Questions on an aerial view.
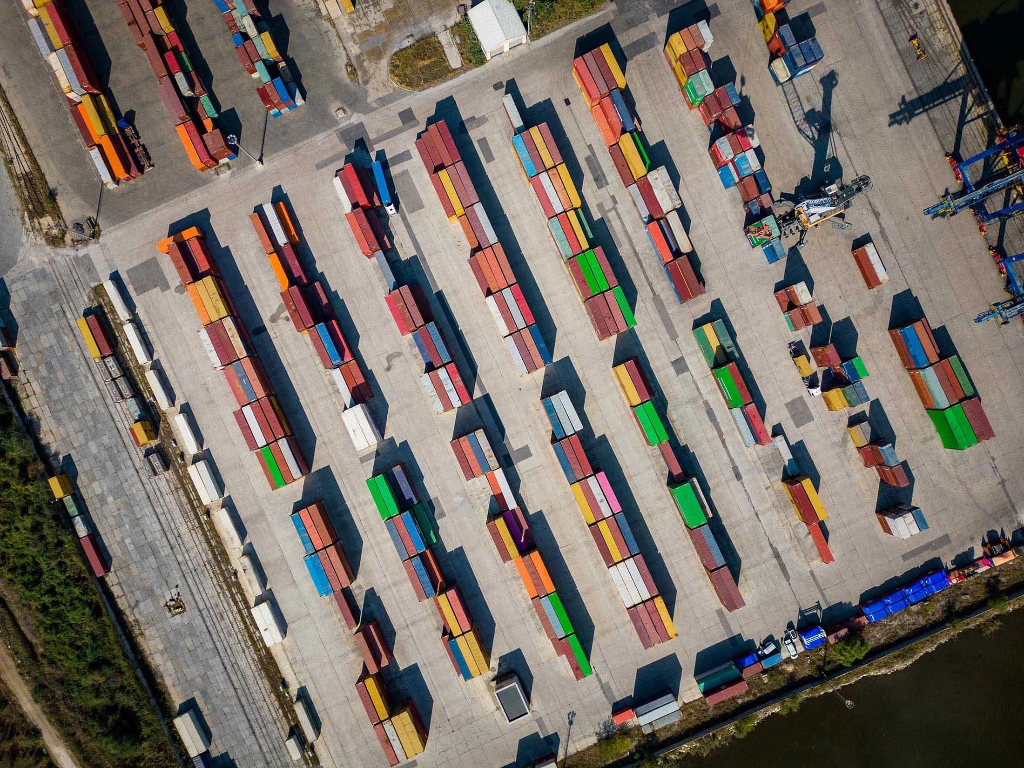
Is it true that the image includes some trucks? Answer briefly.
Yes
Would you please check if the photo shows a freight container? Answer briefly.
Yes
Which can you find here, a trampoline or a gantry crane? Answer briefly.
gantry crane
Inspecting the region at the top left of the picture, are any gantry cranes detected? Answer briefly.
No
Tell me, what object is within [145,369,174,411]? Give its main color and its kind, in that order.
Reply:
white shipping container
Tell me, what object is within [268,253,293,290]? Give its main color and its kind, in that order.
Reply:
orange shipping container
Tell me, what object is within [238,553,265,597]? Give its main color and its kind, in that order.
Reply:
white shipping container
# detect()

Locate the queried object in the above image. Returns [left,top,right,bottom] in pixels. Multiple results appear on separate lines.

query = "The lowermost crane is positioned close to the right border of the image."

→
[970,246,1024,326]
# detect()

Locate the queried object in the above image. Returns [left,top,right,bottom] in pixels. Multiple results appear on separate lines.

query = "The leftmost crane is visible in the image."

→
[764,178,874,247]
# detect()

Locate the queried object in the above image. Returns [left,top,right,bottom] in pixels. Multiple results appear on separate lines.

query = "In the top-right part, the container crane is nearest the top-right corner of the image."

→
[920,130,1024,237]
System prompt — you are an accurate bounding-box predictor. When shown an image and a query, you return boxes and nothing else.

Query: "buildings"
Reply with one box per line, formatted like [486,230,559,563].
[468,0,528,57]
[495,676,530,724]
